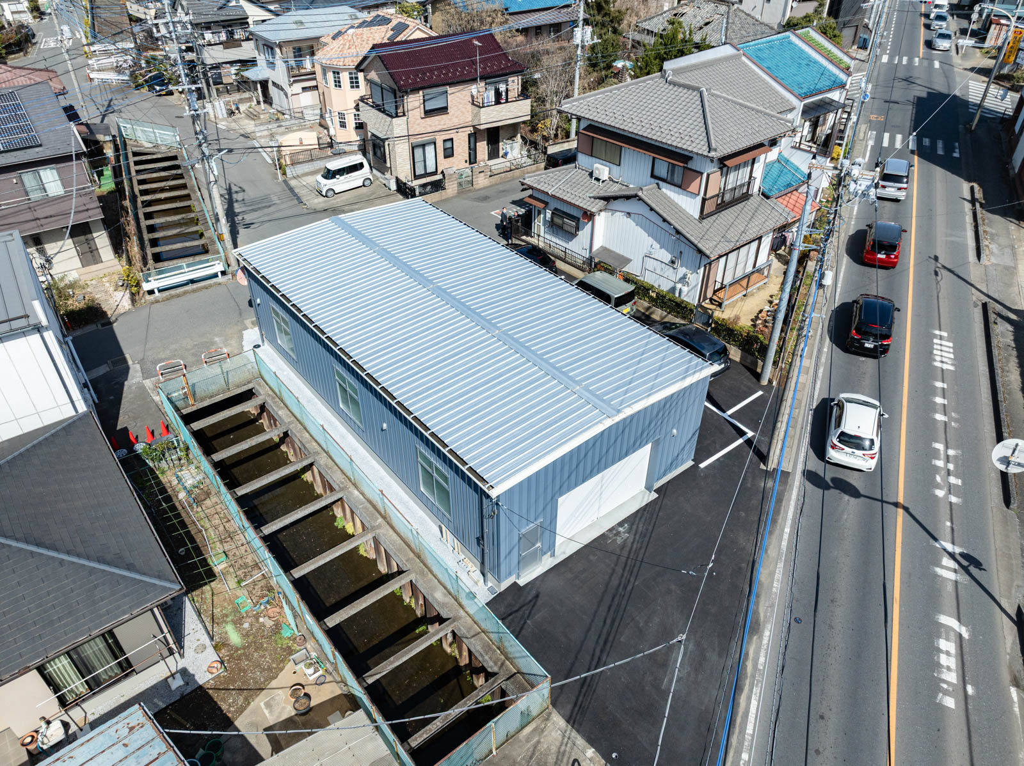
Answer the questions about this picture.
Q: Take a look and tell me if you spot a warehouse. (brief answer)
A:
Yes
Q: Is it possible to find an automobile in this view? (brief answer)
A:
Yes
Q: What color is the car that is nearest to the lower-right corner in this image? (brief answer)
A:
white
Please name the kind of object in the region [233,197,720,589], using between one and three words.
warehouse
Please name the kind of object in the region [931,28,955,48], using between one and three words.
car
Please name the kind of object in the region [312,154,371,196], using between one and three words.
van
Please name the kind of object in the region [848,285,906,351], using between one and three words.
car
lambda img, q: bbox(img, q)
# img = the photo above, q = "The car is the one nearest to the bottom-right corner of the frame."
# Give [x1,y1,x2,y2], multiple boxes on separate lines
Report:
[826,385,893,468]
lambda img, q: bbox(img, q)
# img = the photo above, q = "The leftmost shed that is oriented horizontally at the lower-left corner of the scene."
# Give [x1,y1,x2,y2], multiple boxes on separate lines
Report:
[33,705,172,766]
